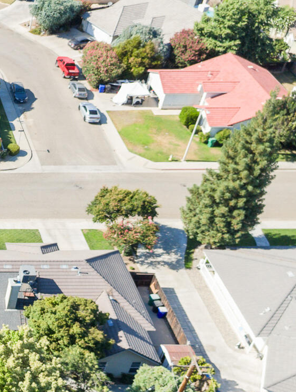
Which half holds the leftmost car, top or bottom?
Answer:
top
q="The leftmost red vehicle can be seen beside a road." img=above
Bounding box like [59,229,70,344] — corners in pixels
[53,55,86,80]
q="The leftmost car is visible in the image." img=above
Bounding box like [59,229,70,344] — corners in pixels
[7,81,32,103]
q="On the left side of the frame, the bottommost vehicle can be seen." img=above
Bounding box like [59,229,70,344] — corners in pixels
[77,102,105,123]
